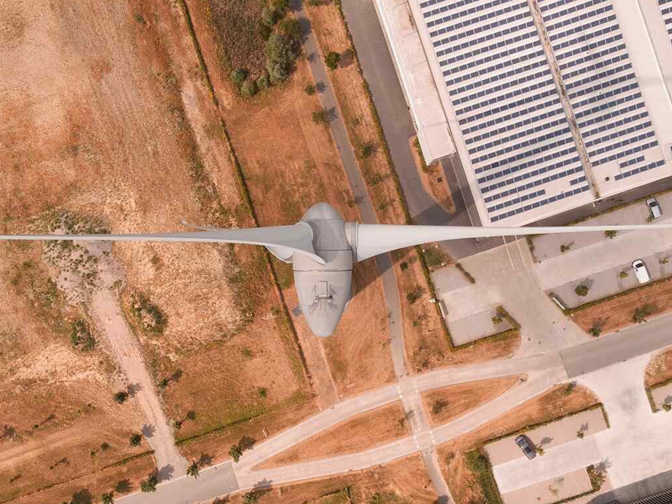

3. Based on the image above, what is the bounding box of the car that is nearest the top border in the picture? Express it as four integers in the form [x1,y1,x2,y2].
[645,196,663,221]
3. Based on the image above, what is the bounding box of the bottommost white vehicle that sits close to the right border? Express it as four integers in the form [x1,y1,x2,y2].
[633,258,651,285]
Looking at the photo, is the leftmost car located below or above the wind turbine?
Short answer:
below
